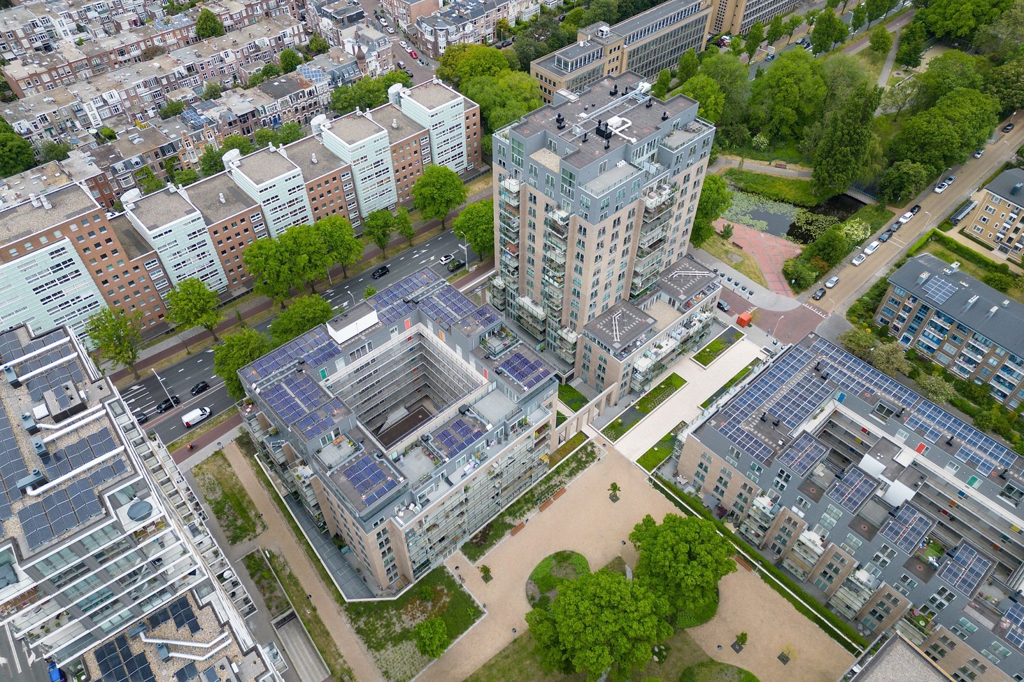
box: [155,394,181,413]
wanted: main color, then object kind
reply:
black car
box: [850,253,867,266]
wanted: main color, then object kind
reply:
white vehicle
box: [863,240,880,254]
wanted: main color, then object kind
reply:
white car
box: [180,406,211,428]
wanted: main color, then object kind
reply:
white vehicle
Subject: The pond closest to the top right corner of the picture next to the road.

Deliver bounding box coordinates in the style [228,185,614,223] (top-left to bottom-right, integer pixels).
[722,182,901,246]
